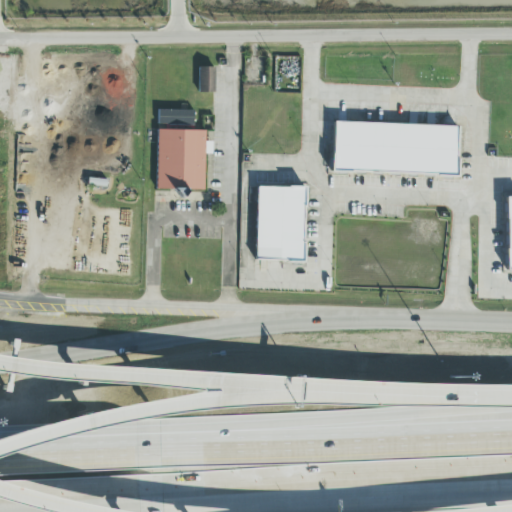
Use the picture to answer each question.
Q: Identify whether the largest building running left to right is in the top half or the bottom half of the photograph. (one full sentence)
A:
It is in the top half that the largest building running left to right appears.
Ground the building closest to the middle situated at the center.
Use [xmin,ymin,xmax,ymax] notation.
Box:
[256,185,308,262]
